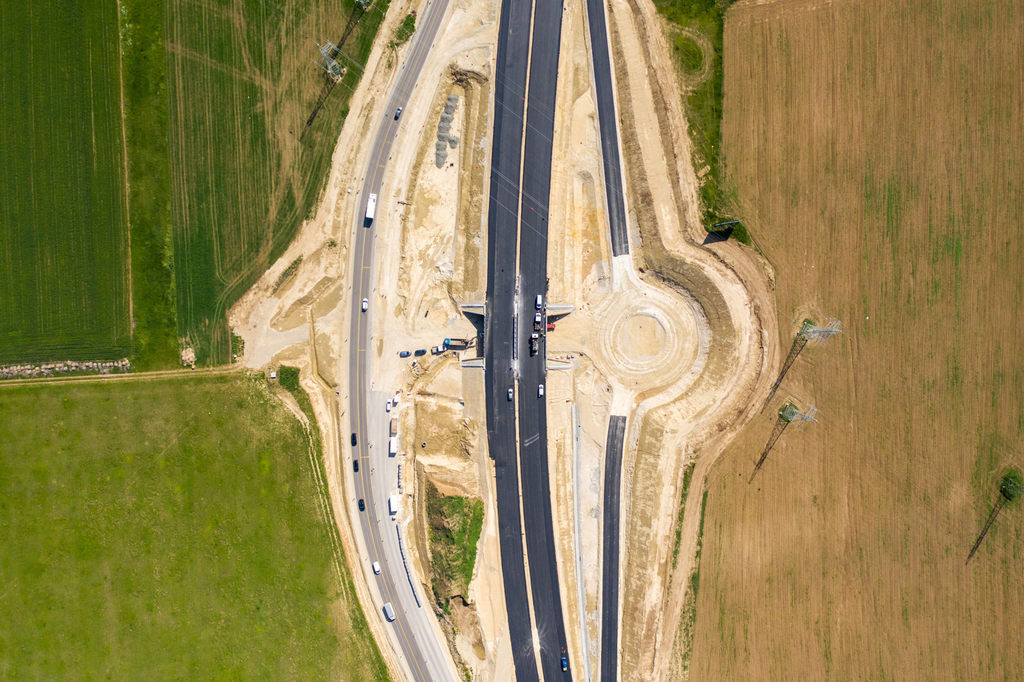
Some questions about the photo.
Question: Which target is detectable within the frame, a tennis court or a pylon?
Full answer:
Of the two, only a pylon appears.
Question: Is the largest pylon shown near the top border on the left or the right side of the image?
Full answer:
You can find the largest pylon shown near the top border on the left side of the picture.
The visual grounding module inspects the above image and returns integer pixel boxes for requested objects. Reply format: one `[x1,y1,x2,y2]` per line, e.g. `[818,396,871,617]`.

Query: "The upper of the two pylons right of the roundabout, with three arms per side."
[797,313,851,349]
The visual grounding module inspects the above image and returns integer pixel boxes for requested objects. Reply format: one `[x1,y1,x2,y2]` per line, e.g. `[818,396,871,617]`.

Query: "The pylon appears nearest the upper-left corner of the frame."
[309,34,346,80]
